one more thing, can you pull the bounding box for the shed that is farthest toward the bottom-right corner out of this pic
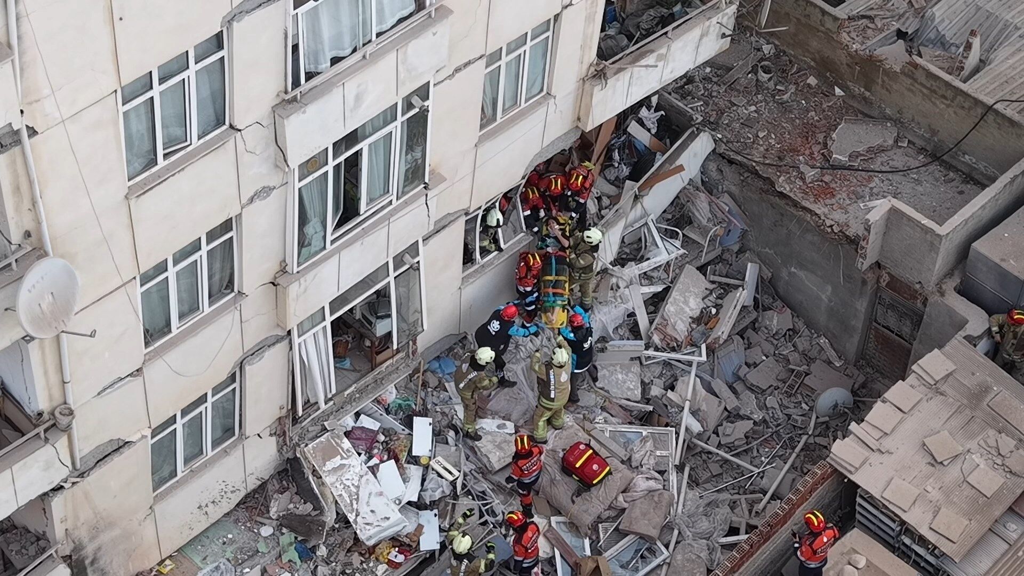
[828,315,1024,576]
